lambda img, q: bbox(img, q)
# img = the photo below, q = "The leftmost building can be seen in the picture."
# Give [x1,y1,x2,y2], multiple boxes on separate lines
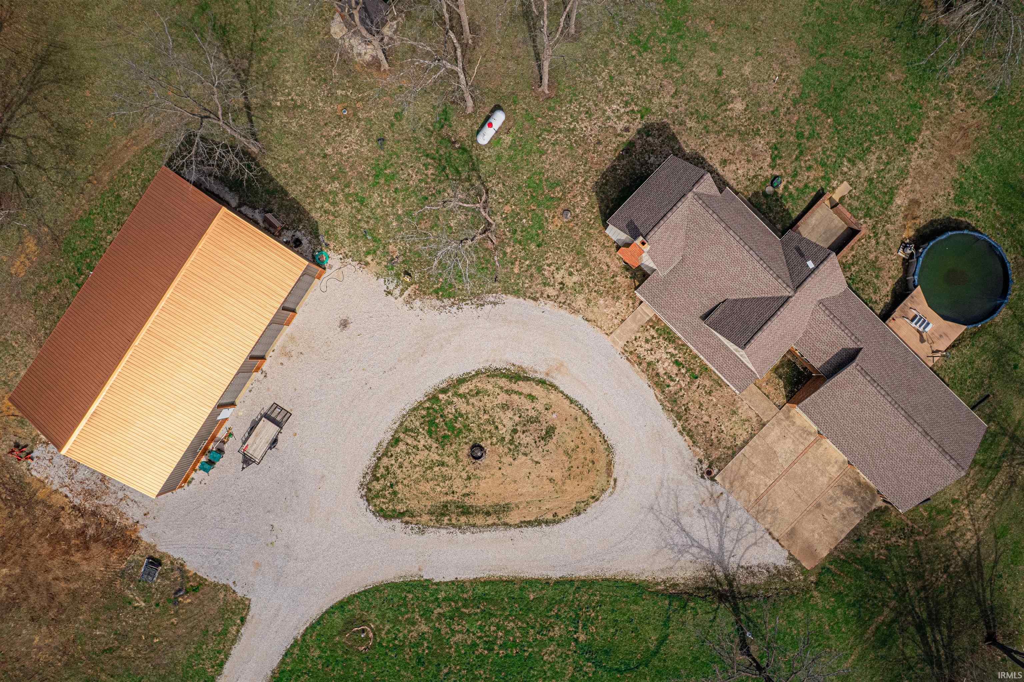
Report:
[6,165,327,498]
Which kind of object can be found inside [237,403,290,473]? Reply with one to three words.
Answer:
trailer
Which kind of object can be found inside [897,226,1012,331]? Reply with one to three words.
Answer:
swimming pool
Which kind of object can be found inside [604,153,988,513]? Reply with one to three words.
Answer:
house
